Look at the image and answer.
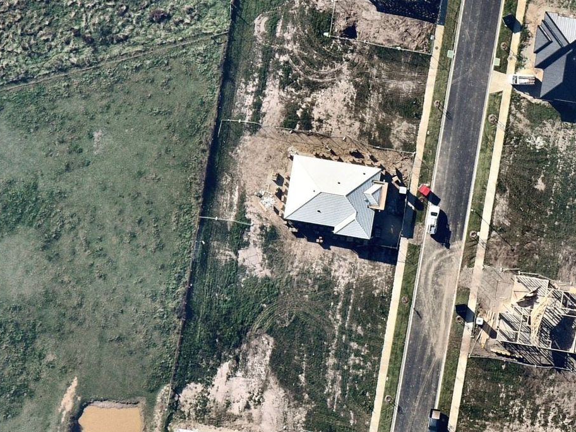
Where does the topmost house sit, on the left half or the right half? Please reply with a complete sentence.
The topmost house appears in the right half of the scene.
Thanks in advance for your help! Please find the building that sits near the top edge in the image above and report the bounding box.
[533,12,576,103]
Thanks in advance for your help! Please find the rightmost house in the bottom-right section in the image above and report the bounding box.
[497,275,576,354]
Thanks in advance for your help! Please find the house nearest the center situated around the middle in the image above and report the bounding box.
[283,154,388,239]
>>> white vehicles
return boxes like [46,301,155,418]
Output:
[507,72,537,87]
[424,204,440,236]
